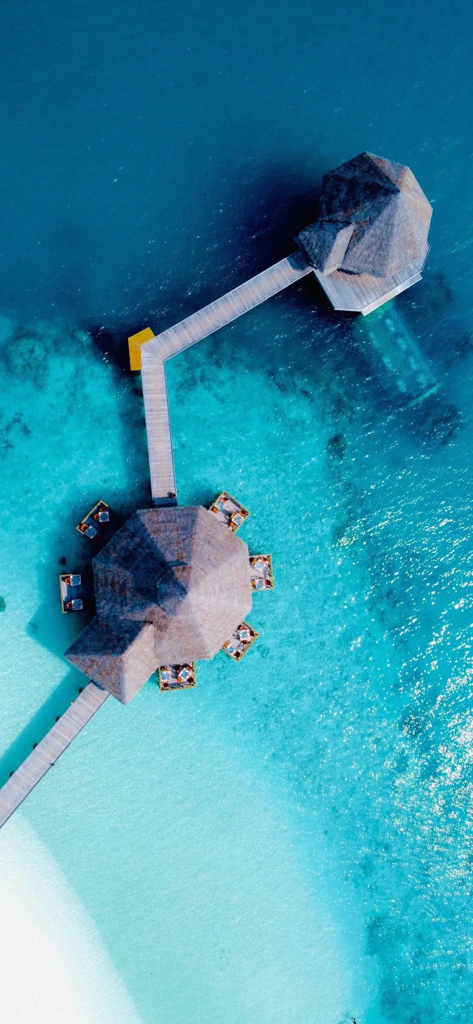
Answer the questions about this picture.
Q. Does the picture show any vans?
No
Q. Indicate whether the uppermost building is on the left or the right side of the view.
right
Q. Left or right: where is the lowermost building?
left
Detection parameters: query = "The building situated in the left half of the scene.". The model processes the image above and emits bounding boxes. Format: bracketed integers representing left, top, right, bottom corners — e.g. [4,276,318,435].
[64,504,253,707]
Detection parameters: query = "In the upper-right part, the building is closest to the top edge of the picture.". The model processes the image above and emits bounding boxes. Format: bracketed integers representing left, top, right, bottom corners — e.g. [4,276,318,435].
[278,152,433,323]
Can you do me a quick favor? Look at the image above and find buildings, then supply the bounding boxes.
[278,152,433,323]
[64,504,253,707]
